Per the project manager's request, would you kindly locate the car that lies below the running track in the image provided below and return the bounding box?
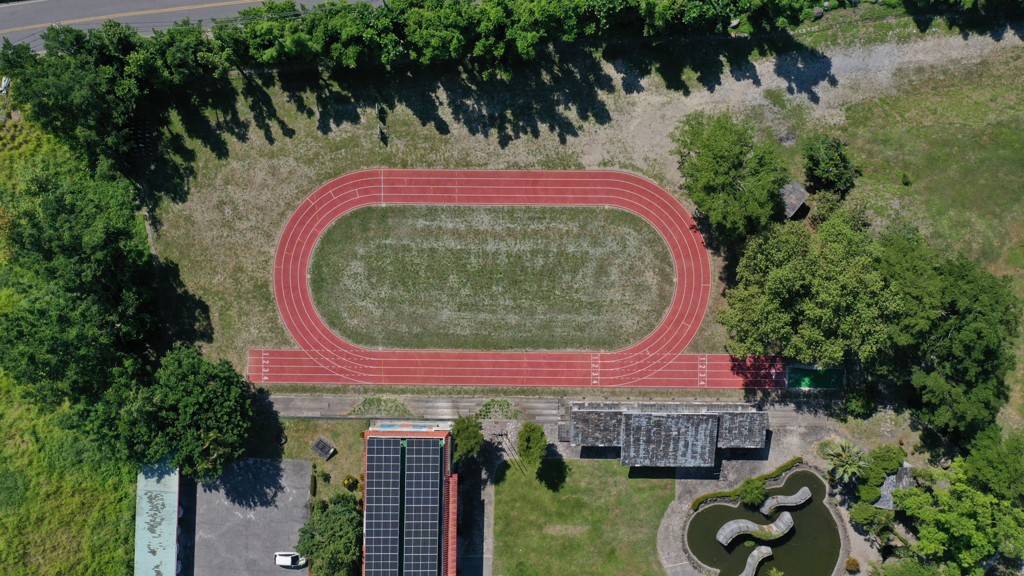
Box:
[274,550,306,567]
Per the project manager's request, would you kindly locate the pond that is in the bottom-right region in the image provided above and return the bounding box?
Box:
[678,462,850,576]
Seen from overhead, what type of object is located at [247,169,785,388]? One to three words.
running track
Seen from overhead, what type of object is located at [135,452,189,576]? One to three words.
shed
